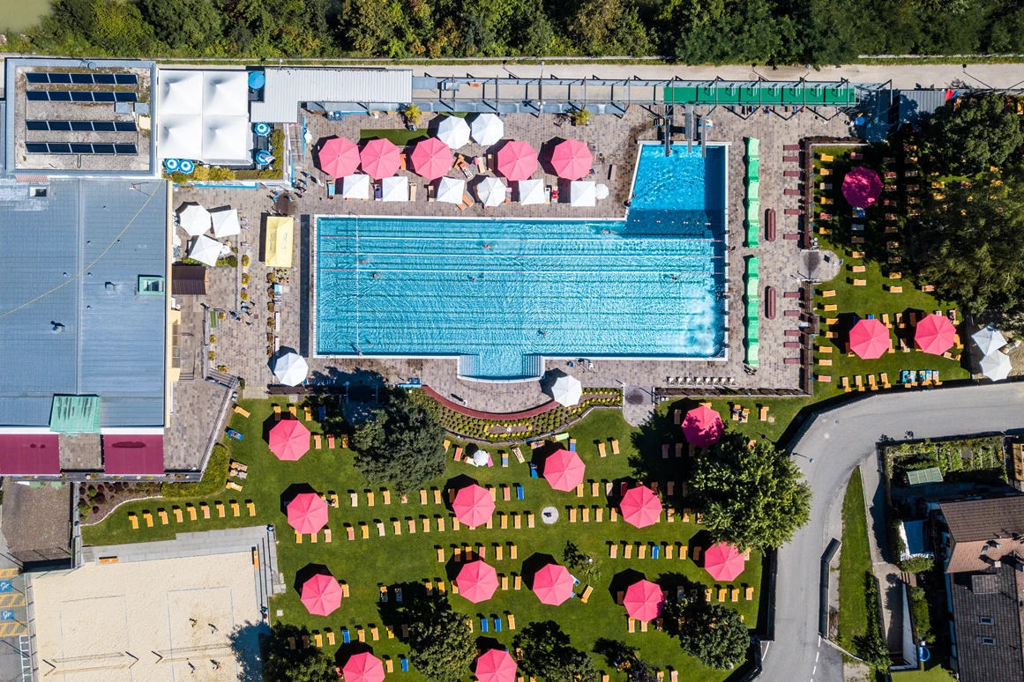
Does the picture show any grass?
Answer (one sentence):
Yes, the picture does contain grass.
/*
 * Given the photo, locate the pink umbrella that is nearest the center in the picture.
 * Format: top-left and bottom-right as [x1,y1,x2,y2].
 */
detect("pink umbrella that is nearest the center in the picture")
[543,449,585,491]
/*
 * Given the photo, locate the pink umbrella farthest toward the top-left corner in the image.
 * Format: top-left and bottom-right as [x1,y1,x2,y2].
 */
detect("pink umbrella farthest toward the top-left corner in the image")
[319,137,361,179]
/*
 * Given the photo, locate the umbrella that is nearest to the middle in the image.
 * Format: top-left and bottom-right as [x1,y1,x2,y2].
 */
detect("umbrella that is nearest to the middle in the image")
[550,375,582,406]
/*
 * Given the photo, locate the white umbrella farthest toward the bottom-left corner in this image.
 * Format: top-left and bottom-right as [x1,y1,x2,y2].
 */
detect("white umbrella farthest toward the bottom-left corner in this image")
[275,350,310,385]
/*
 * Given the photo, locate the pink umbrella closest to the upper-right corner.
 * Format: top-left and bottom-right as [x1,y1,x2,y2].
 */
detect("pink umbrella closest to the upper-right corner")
[839,167,881,209]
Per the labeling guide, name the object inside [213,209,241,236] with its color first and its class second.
white umbrella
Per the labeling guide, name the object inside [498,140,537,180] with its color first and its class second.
pink umbrella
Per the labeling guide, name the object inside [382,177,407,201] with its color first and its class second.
white umbrella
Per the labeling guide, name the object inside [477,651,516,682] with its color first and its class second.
pink umbrella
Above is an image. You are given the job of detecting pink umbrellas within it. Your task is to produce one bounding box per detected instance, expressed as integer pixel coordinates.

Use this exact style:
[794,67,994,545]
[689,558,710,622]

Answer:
[681,404,723,446]
[288,493,328,533]
[839,167,881,209]
[532,563,574,605]
[551,138,593,180]
[344,652,385,682]
[453,484,495,526]
[456,559,498,601]
[847,319,887,359]
[623,579,666,621]
[543,449,585,491]
[621,486,663,528]
[359,138,401,180]
[302,574,343,616]
[411,138,453,180]
[477,651,516,682]
[702,539,743,581]
[498,140,537,180]
[271,420,310,459]
[319,137,361,179]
